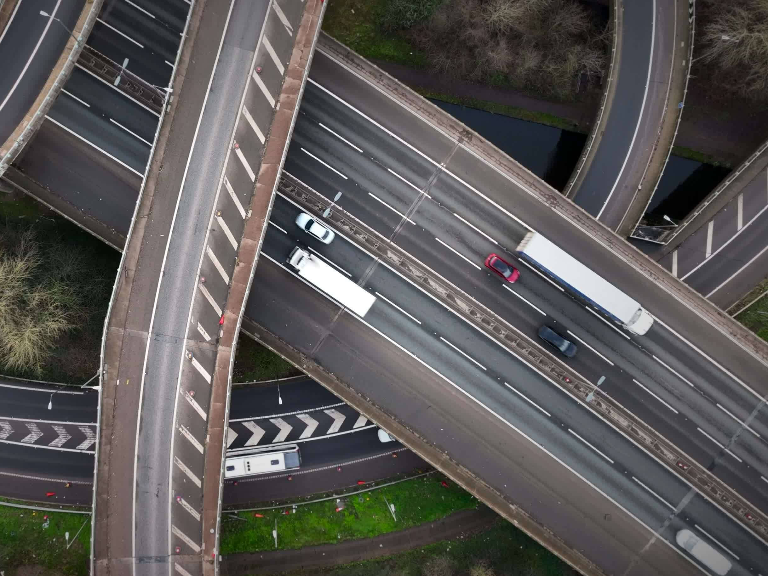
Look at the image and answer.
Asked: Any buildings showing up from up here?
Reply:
No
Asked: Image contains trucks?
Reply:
Yes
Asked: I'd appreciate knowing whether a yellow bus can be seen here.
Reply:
No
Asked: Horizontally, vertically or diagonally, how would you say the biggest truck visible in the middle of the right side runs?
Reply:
diagonally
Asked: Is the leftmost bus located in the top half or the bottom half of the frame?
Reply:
bottom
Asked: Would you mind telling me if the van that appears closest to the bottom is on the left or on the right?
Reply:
right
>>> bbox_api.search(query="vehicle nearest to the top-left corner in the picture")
[294,212,334,244]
